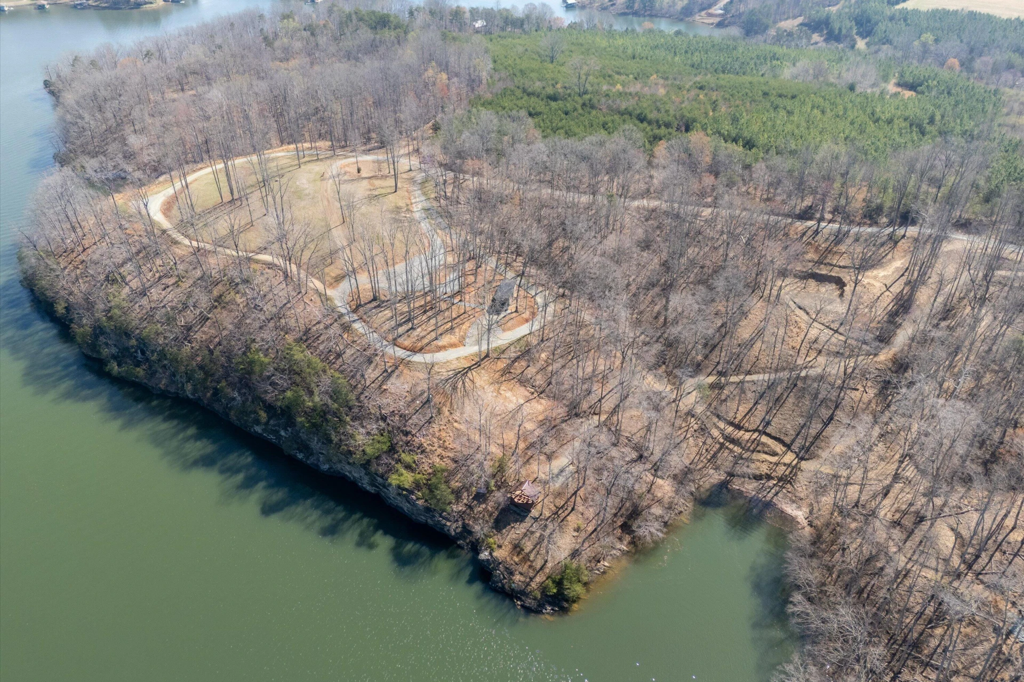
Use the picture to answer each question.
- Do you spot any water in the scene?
Yes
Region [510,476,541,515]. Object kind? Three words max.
building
